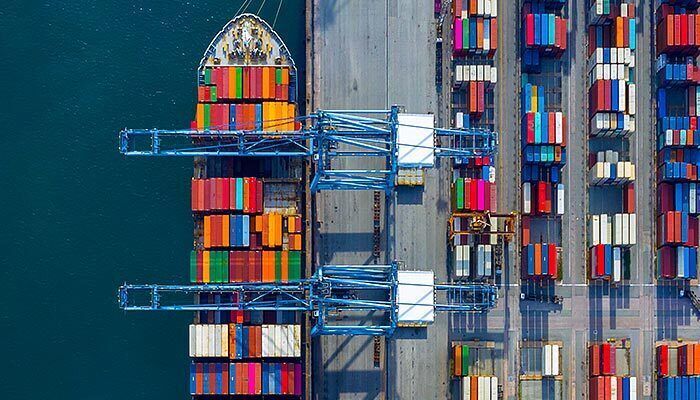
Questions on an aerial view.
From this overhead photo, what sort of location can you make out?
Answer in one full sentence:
It's a port.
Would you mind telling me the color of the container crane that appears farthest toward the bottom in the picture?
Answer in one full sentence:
The color of the container crane that appears farthest toward the bottom is blue.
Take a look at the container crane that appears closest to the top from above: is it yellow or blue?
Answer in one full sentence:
In this view, the container crane that appears closest to the top is blue.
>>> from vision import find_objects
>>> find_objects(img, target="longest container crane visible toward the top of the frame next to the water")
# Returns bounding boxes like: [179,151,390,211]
[117,105,498,210]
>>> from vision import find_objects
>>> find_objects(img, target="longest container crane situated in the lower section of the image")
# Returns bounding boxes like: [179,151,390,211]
[117,261,498,346]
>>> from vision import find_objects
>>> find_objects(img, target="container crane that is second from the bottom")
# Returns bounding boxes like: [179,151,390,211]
[448,205,516,250]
